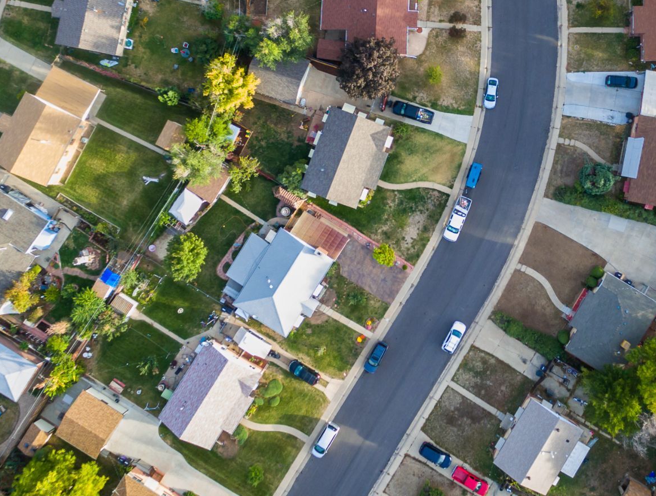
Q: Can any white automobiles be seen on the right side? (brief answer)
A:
Yes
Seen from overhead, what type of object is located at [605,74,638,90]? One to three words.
car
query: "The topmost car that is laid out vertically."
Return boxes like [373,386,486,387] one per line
[483,77,498,109]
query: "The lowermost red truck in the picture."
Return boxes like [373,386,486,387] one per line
[450,465,491,495]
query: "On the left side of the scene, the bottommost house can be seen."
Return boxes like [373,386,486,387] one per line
[104,457,182,496]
